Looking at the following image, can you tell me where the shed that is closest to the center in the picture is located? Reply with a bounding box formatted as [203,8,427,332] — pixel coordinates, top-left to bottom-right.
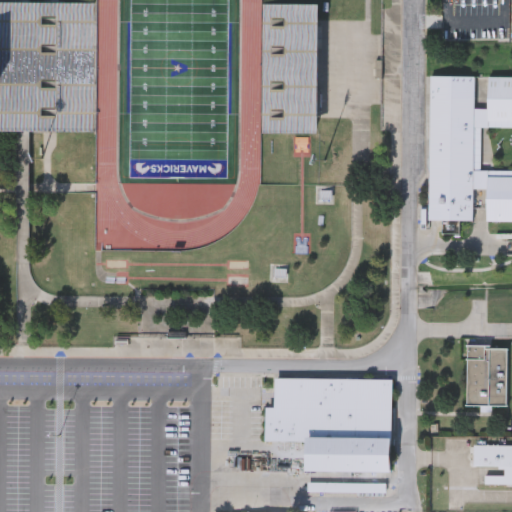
[270,264,288,282]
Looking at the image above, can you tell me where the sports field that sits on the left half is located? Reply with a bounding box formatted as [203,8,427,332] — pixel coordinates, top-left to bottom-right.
[120,0,238,184]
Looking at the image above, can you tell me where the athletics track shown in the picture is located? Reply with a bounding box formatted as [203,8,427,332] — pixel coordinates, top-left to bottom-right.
[97,0,262,250]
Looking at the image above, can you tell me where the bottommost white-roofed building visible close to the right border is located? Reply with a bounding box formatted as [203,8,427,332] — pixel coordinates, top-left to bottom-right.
[471,445,512,486]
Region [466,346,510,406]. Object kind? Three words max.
building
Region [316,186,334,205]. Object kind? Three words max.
shed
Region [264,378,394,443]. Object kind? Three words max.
building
